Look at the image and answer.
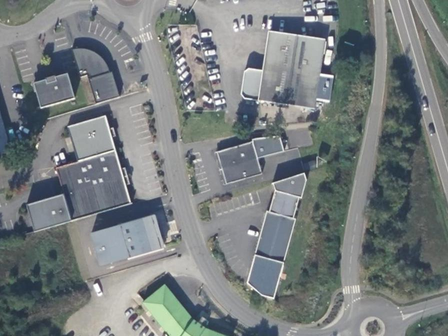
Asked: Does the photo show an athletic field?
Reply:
No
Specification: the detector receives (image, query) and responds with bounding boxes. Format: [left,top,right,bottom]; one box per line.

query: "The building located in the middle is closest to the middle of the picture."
[216,138,284,184]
